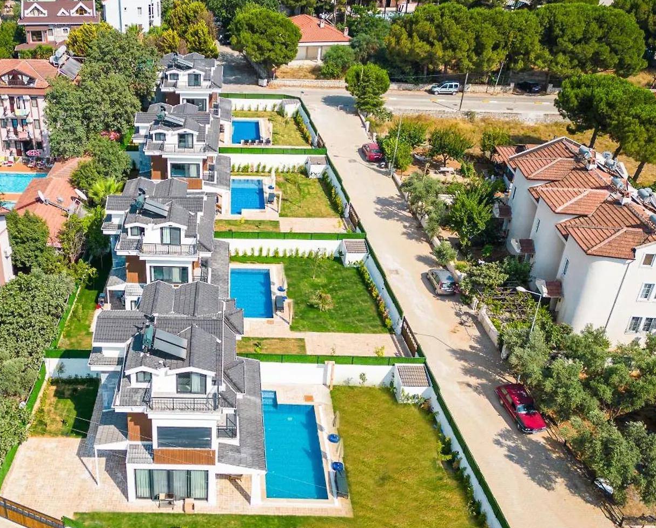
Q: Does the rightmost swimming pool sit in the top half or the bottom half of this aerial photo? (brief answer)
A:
bottom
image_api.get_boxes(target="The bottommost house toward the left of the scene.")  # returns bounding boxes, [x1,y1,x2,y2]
[92,277,268,508]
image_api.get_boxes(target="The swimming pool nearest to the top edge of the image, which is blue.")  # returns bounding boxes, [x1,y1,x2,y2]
[234,120,264,145]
